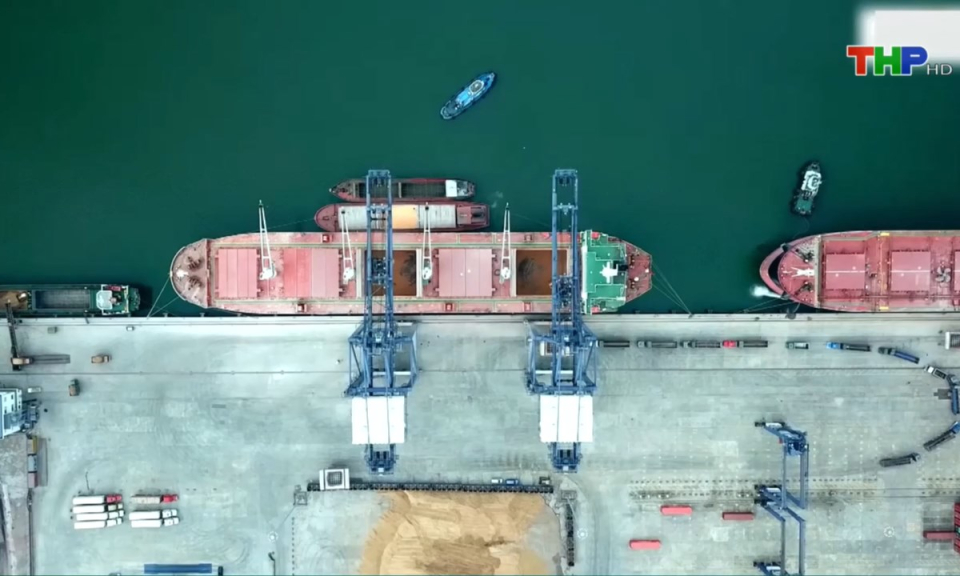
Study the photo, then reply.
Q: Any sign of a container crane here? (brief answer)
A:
Yes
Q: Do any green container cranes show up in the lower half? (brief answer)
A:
No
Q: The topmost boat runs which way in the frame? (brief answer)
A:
at an angle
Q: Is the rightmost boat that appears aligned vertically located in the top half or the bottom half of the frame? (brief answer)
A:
top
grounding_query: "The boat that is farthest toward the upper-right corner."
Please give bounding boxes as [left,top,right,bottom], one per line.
[794,158,826,217]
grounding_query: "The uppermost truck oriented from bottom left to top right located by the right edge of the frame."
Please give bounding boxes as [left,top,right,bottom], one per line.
[922,421,960,451]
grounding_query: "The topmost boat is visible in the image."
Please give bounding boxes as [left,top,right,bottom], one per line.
[438,68,497,122]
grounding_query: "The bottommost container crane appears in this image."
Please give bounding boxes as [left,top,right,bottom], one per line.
[755,497,809,576]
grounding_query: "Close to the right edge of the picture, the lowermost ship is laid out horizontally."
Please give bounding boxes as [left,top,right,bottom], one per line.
[746,230,960,314]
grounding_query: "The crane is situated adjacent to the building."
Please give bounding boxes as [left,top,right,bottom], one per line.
[3,296,34,372]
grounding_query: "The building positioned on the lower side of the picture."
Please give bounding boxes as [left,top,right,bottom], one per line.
[0,387,29,445]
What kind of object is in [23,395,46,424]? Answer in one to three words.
work vehicle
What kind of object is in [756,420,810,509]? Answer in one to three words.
container crane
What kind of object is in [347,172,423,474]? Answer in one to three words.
container crane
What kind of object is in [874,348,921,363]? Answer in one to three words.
vehicle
